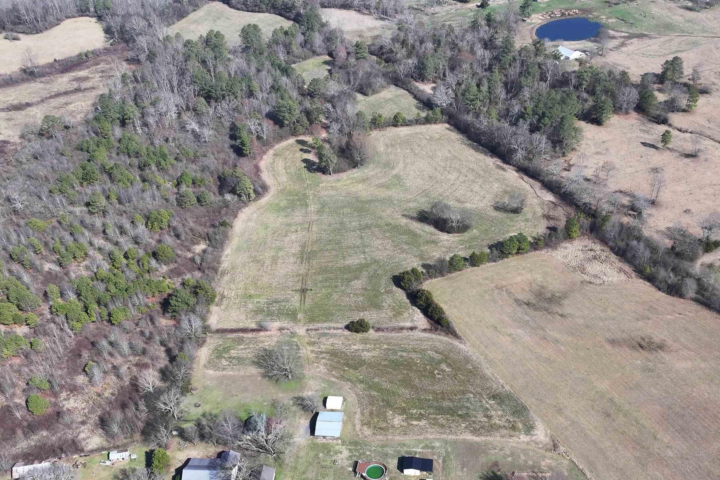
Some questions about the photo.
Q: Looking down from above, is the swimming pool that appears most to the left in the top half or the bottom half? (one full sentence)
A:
The swimming pool that appears most to the left is in the bottom half of the image.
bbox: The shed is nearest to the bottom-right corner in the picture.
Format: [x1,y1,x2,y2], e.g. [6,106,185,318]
[402,455,433,475]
